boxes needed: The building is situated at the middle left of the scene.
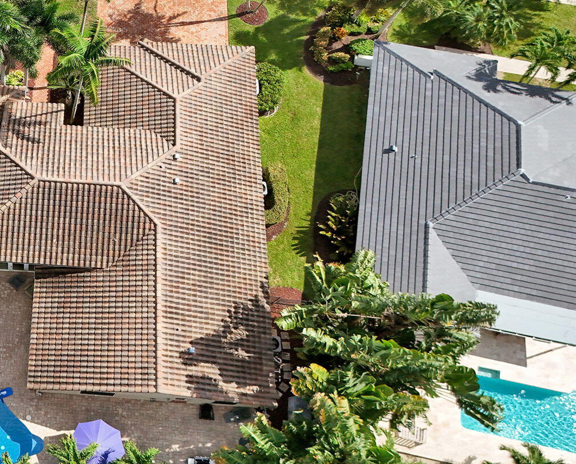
[0,39,279,404]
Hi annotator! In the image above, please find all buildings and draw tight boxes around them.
[0,39,279,404]
[352,40,576,351]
